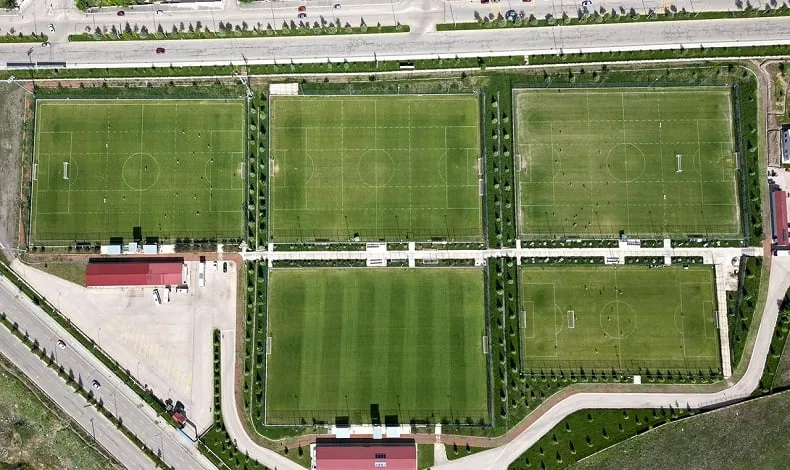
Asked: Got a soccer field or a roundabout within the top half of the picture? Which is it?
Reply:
soccer field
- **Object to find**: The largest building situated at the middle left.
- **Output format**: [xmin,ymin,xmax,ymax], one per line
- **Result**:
[85,262,190,289]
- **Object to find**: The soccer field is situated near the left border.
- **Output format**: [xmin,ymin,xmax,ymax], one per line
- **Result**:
[31,98,248,246]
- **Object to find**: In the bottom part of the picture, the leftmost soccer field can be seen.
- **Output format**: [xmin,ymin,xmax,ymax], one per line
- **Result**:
[265,267,491,424]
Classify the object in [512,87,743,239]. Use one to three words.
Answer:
soccer field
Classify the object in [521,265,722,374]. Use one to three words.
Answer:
soccer field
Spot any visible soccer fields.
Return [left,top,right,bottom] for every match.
[512,87,743,239]
[521,265,722,374]
[265,267,491,424]
[31,98,248,246]
[269,94,485,242]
